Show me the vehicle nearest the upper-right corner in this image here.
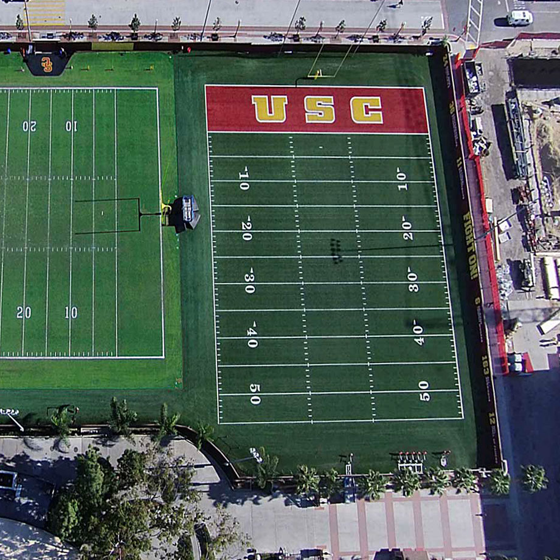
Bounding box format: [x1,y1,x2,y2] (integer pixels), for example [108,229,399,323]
[505,11,531,26]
